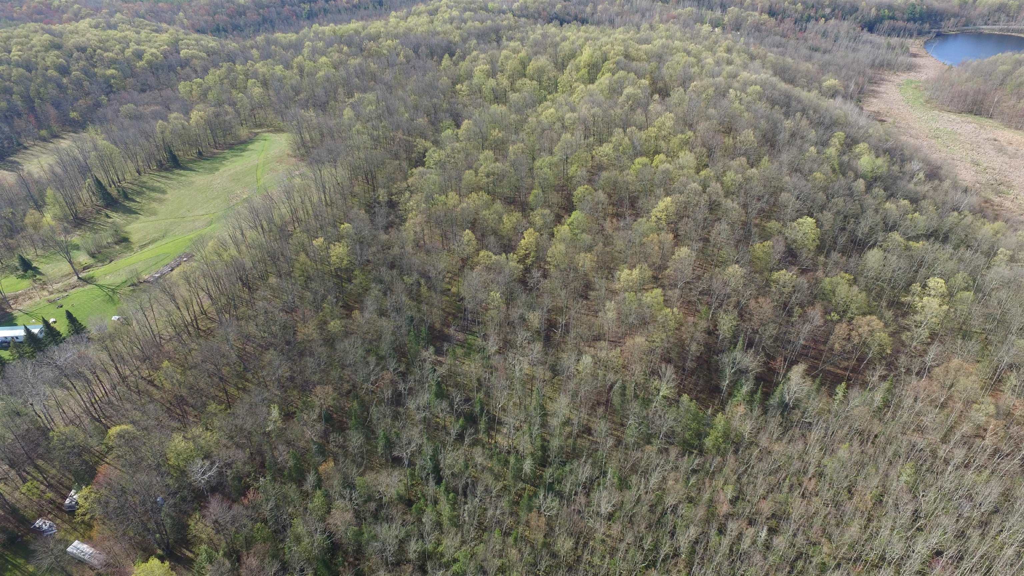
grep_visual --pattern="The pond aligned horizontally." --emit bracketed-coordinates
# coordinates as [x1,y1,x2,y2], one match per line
[925,32,1024,79]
